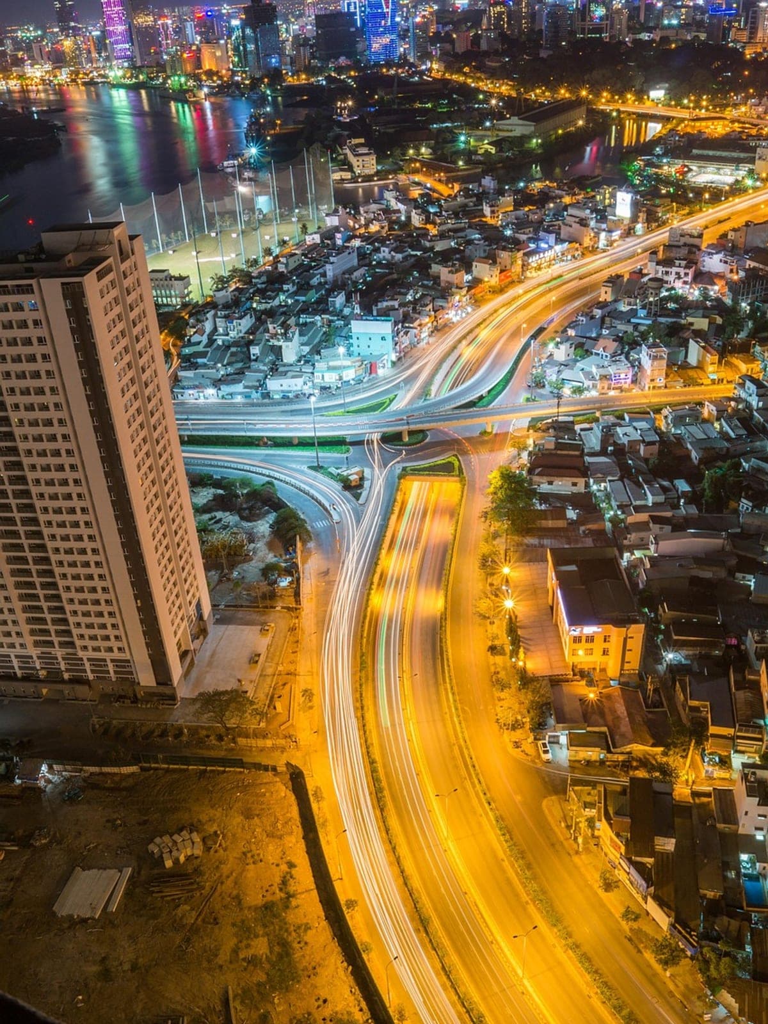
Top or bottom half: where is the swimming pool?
bottom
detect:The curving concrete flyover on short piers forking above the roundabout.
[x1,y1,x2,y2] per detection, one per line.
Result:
[172,320,745,443]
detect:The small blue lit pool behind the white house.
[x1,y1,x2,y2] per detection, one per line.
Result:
[736,857,768,909]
